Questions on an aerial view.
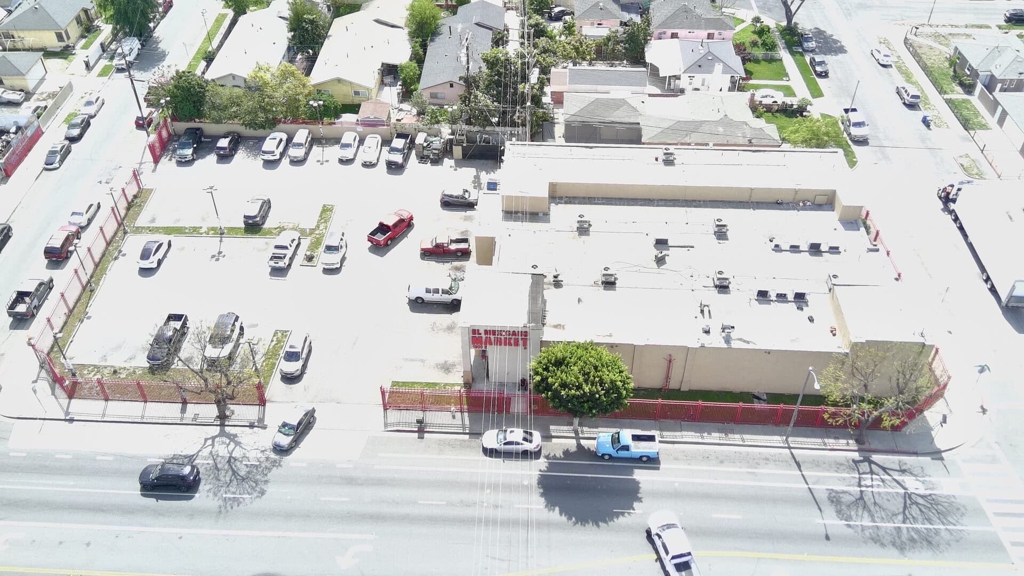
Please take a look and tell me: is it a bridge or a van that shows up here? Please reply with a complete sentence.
Of the two, only a van appears.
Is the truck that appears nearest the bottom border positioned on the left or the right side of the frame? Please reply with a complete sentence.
You can find the truck that appears nearest the bottom border on the right side of the picture.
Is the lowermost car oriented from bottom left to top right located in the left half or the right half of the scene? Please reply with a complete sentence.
The lowermost car oriented from bottom left to top right is on the left side of the image.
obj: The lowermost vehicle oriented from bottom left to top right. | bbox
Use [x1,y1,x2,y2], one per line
[270,403,323,453]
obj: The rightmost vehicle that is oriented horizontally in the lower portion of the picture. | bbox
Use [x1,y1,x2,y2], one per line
[594,432,662,462]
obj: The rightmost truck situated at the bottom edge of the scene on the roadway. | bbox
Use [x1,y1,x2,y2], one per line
[650,522,703,576]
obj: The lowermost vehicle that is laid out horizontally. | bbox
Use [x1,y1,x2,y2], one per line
[137,462,204,493]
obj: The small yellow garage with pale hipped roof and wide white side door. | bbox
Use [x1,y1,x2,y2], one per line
[0,52,46,94]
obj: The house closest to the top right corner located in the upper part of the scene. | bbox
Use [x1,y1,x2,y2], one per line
[955,42,1024,93]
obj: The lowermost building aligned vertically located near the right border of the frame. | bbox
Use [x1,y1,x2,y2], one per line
[995,94,1024,160]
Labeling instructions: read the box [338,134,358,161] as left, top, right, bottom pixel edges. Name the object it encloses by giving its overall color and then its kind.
white car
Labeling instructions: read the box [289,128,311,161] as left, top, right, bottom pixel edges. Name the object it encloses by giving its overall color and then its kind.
white car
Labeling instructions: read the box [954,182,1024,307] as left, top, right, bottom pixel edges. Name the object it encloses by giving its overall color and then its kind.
white trailer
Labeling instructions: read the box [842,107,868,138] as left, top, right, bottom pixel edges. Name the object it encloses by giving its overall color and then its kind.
white truck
